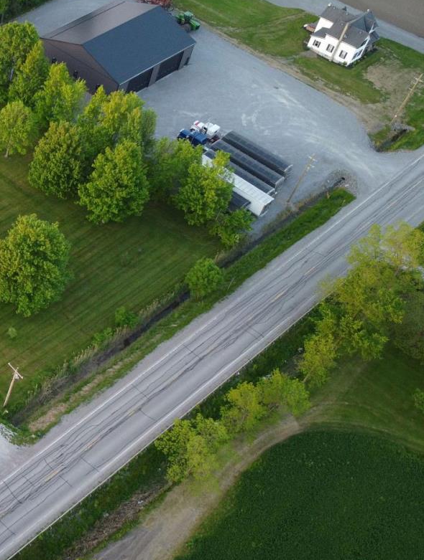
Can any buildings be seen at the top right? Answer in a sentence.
Yes, I can see a building at the top right.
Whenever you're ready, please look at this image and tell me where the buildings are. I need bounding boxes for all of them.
[39,1,199,104]
[293,1,393,66]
